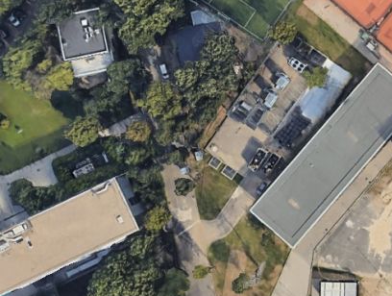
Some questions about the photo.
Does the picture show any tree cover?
Yes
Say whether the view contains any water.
No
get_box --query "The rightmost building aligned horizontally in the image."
[320,279,359,296]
